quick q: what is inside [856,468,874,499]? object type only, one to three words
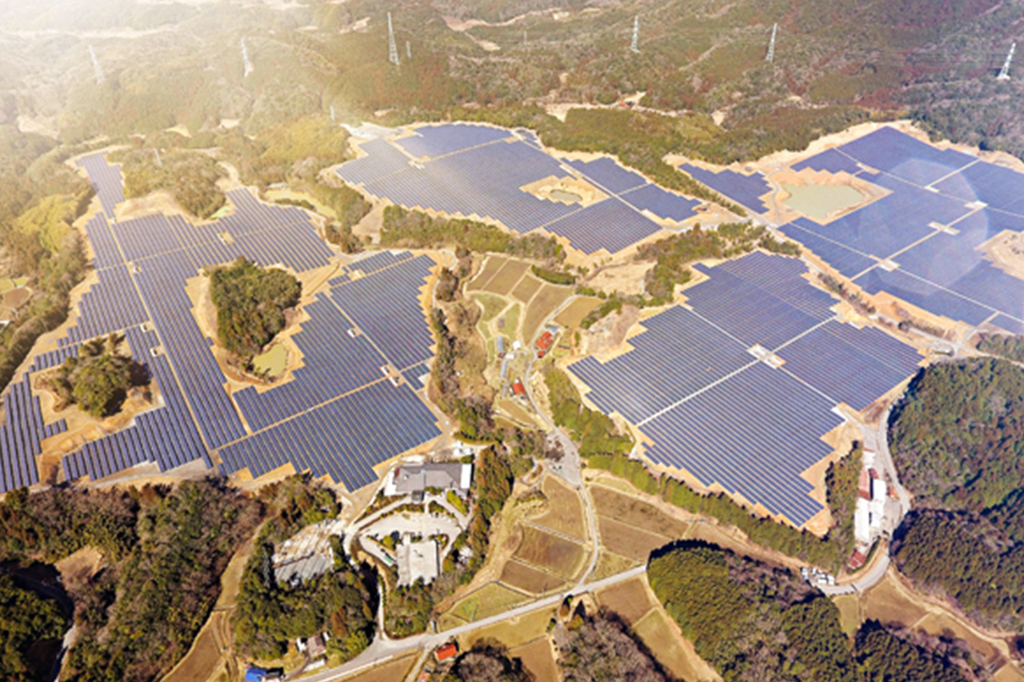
shed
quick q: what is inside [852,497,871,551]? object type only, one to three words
building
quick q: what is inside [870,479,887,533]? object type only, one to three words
shed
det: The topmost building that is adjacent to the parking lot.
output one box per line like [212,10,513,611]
[396,463,473,505]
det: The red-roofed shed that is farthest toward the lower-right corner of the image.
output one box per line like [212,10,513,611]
[846,550,872,575]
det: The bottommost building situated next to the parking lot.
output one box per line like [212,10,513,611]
[397,534,442,592]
